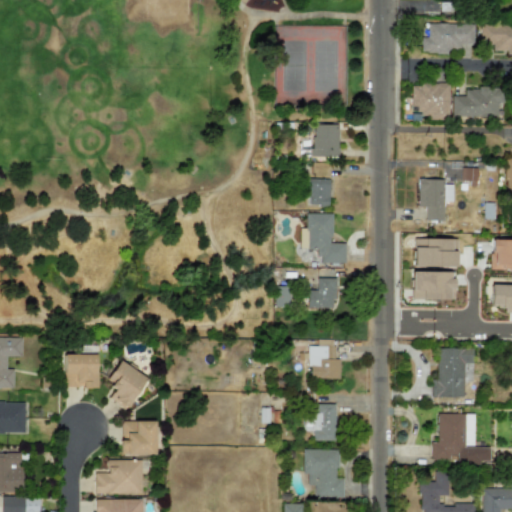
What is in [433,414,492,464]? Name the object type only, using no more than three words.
house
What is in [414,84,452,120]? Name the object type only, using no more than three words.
house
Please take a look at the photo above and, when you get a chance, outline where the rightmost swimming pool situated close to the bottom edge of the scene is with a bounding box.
[292,471,305,495]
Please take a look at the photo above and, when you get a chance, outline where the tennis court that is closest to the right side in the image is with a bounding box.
[310,26,347,107]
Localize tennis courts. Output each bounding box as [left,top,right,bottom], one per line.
[310,26,347,107]
[276,26,310,107]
